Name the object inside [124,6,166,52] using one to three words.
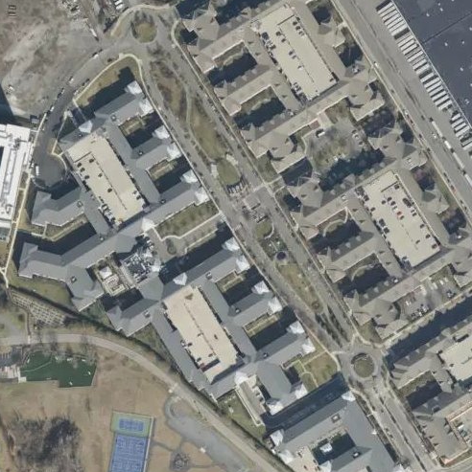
roundabout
